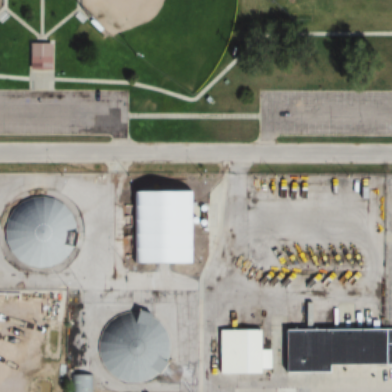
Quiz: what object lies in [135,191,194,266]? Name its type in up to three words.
shed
